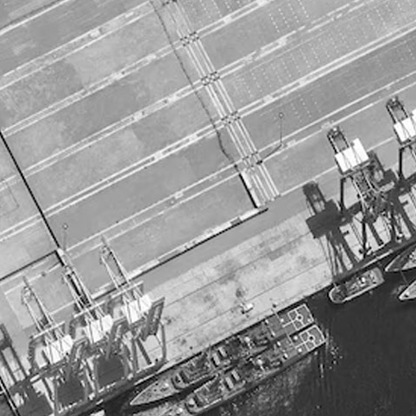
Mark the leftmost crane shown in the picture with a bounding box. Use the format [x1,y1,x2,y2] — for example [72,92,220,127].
[11,277,88,416]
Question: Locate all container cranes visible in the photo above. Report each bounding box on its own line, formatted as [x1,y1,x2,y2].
[384,94,416,199]
[11,277,88,416]
[324,127,401,259]
[53,256,129,397]
[93,235,168,378]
